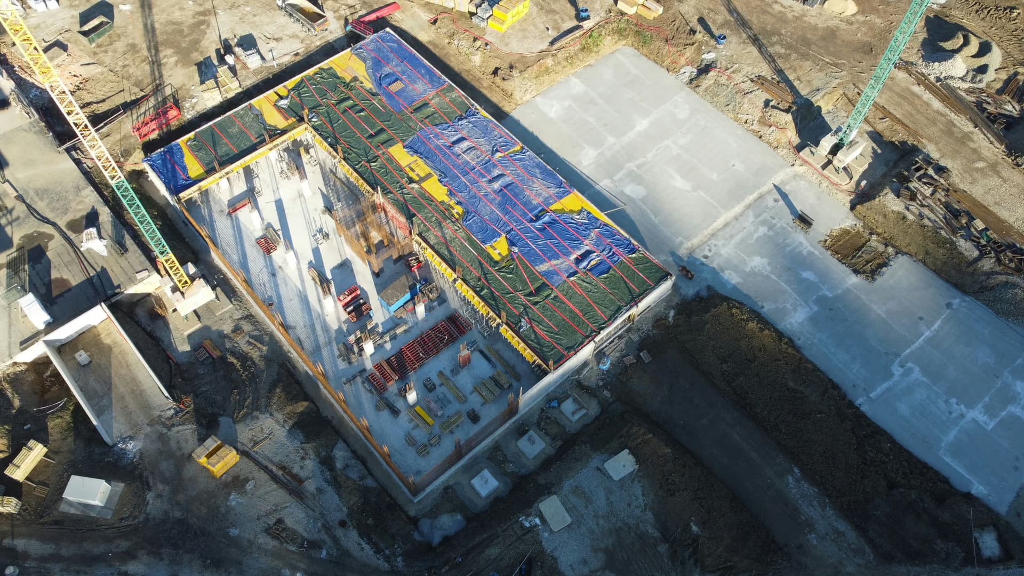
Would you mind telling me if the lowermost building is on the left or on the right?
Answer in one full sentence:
The lowermost building sits on the left side.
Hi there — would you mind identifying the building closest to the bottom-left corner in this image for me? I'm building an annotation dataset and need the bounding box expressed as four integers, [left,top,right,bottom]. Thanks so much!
[46,468,128,522]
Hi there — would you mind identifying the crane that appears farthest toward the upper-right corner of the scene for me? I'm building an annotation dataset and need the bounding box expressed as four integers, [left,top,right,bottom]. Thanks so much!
[800,0,948,200]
